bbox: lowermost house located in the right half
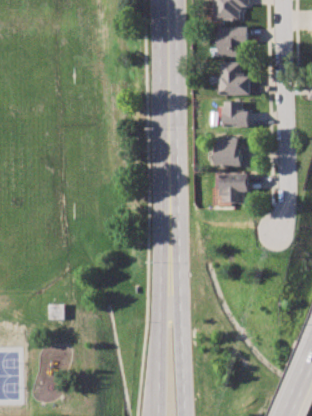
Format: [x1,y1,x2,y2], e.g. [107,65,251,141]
[216,172,248,206]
